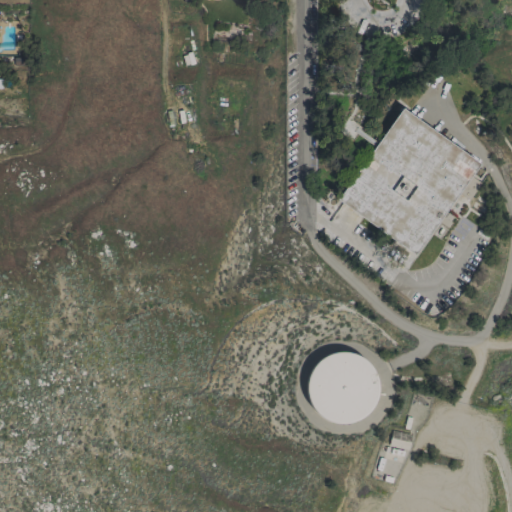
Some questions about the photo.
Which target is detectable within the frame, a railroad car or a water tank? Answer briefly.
water tank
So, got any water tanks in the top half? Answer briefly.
No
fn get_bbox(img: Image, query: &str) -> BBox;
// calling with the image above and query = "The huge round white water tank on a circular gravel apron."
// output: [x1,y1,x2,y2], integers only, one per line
[308,352,386,424]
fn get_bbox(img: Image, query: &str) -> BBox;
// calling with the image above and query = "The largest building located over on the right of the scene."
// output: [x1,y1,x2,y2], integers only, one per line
[342,108,482,256]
